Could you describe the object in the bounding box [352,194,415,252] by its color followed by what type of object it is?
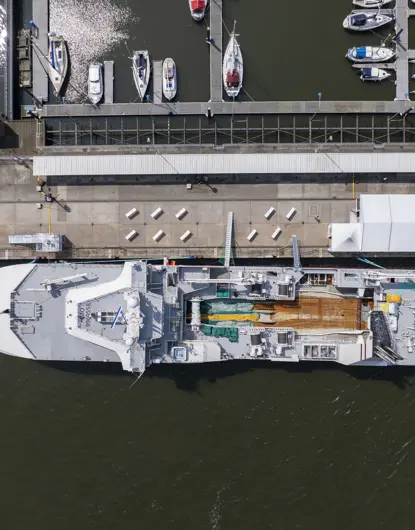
white tent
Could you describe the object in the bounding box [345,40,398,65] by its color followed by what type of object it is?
white boat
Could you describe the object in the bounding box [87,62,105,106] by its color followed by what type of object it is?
white boat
